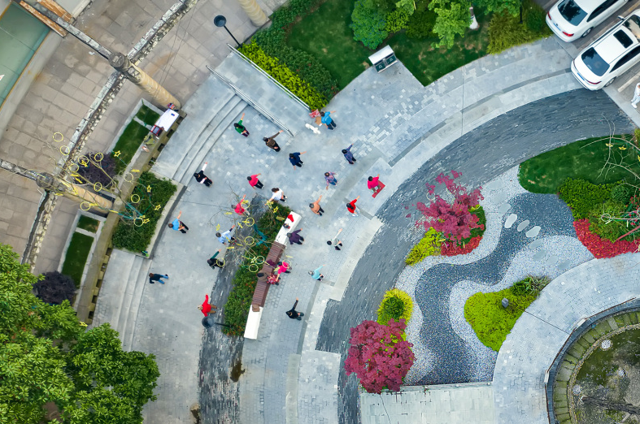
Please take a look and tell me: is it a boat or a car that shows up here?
car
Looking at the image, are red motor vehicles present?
No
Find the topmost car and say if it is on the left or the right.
right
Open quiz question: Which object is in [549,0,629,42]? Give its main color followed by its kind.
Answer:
white car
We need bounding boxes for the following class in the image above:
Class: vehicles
[576,5,640,90]
[549,0,629,42]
